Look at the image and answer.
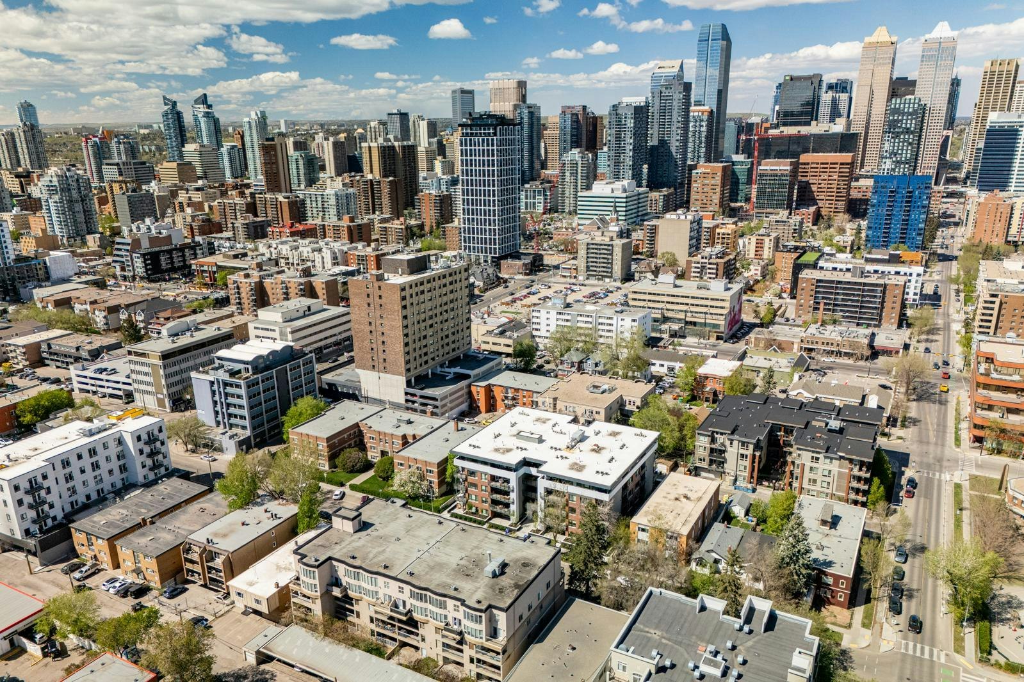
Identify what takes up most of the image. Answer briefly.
buildings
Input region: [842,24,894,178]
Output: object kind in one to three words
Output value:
building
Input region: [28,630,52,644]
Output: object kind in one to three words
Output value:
car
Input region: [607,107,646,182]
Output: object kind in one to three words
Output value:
building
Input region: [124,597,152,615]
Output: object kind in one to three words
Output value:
vehicle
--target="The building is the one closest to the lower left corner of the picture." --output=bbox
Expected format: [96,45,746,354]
[0,583,46,650]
